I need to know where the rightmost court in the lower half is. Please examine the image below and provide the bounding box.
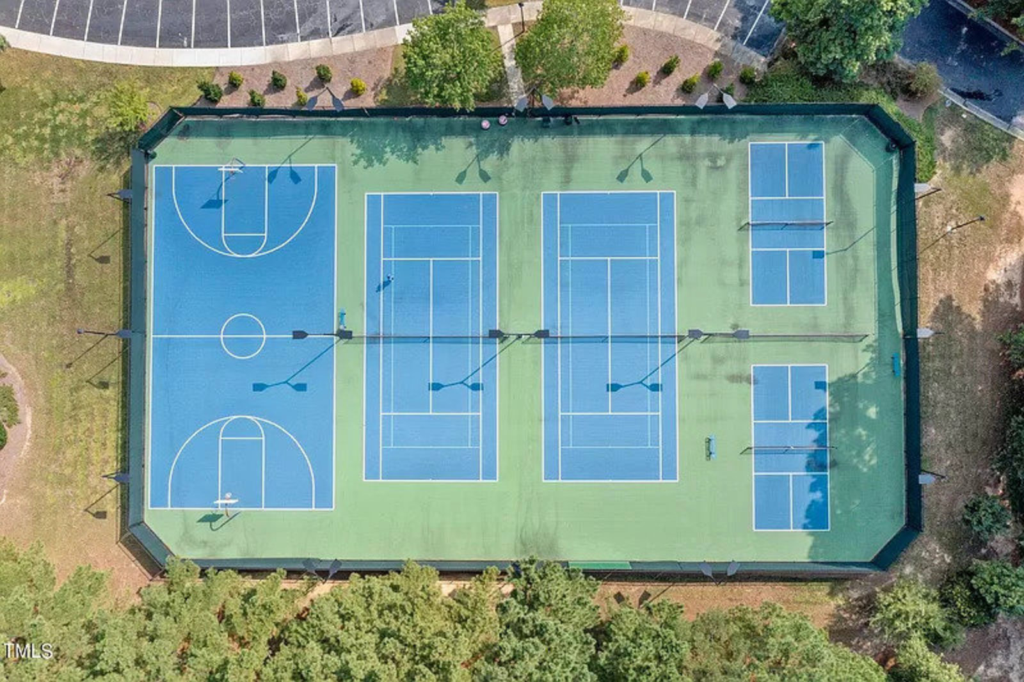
[752,365,830,531]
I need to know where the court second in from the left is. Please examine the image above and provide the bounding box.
[364,192,498,481]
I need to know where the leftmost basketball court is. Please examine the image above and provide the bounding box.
[149,164,336,510]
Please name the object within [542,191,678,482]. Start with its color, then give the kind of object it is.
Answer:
blue tennis court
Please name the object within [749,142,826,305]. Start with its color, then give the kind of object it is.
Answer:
blue sports court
